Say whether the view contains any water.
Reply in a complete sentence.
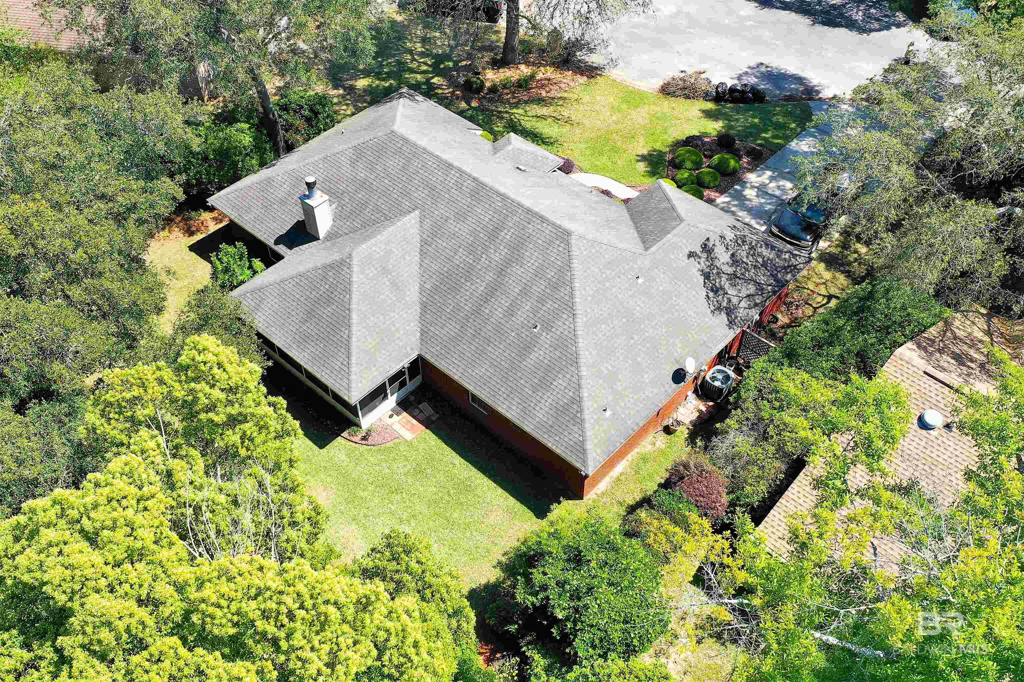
No, water can't be seen anywhere here.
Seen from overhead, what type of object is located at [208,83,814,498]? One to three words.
house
